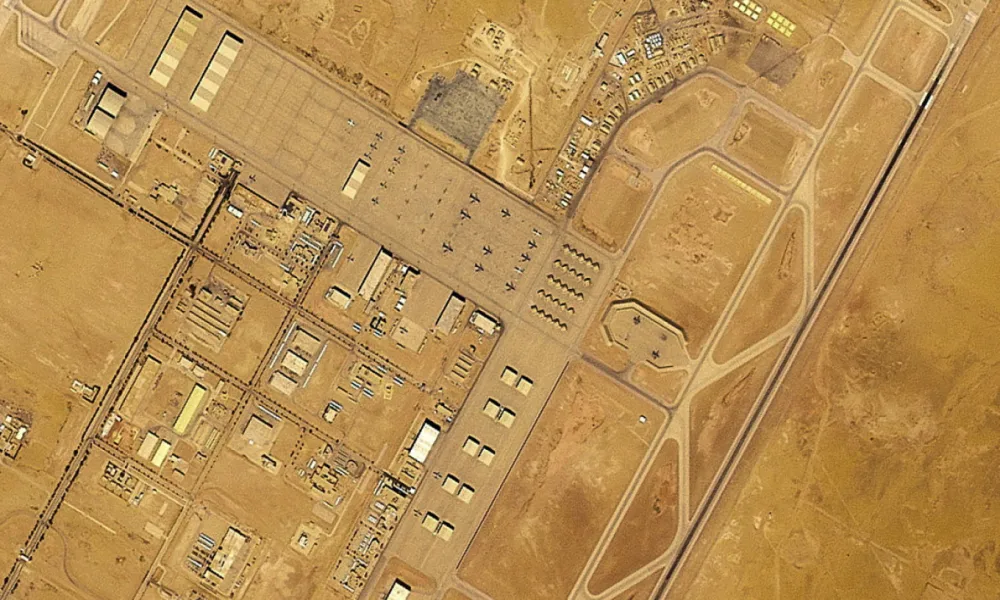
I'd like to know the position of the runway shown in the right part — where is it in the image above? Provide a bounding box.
[648,0,989,600]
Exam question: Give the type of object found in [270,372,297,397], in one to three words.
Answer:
building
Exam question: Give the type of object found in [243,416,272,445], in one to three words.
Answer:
building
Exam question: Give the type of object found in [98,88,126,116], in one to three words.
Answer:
hangar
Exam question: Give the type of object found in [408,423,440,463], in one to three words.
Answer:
hangar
